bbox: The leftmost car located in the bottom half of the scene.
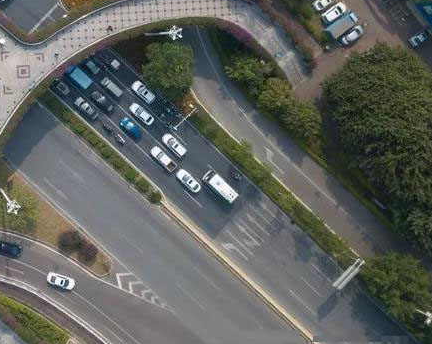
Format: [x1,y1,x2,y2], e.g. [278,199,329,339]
[0,240,23,256]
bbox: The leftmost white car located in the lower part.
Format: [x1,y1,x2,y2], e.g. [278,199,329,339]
[46,272,74,289]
